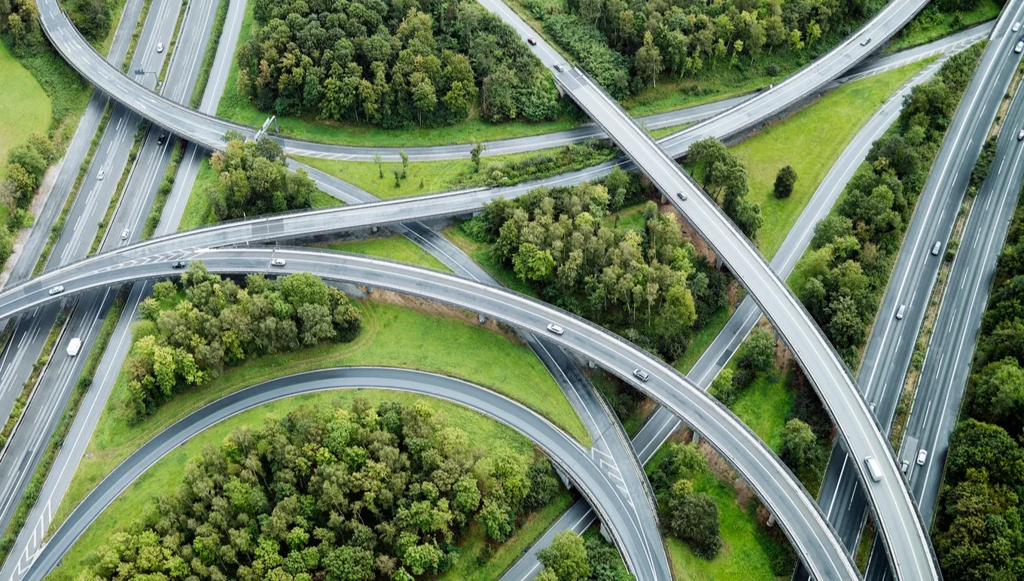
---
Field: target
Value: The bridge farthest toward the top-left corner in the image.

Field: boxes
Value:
[37,0,264,156]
